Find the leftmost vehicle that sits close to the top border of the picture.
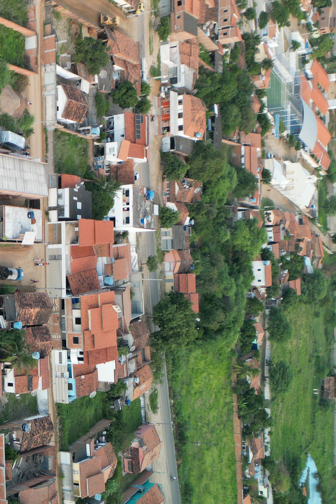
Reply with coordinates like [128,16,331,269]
[100,14,121,33]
